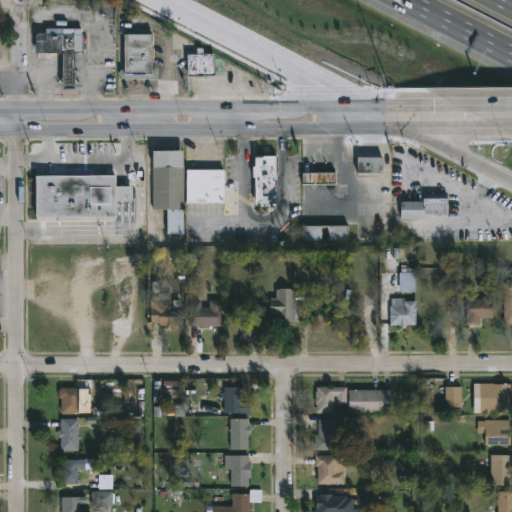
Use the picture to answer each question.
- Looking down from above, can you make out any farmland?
No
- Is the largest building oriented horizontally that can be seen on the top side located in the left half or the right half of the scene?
left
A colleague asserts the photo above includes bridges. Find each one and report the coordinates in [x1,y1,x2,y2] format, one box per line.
[387,86,512,146]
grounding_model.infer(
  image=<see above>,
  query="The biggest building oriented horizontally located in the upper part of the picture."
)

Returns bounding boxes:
[36,176,133,218]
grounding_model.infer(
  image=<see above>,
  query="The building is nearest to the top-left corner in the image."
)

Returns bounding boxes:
[36,22,84,87]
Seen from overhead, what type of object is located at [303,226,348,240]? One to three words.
shed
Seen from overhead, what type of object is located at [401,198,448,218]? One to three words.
building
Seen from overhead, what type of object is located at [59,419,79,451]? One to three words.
house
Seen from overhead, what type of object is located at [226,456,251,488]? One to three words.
house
